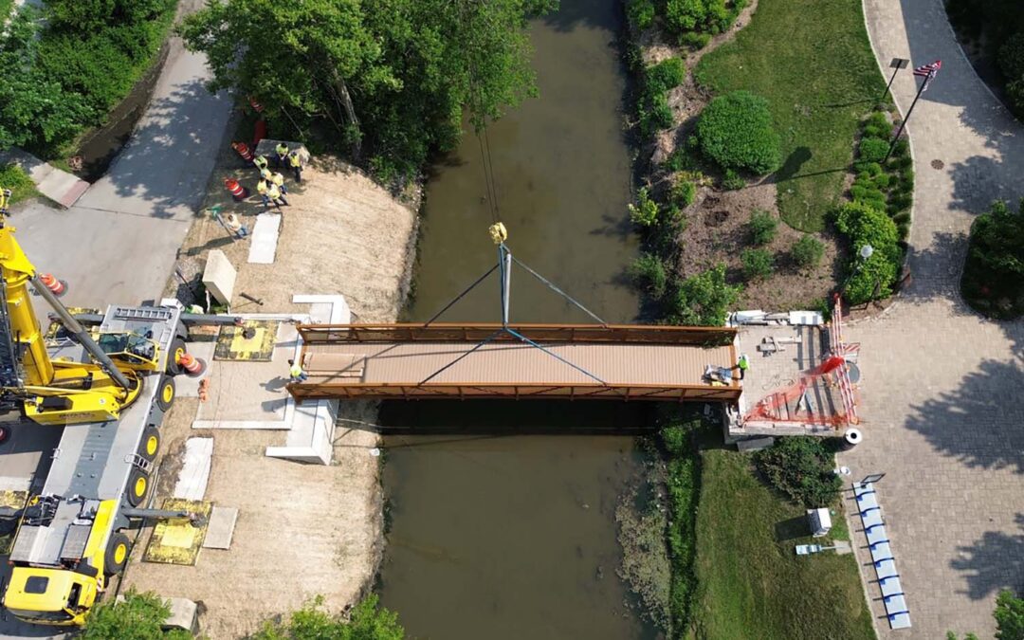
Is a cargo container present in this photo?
No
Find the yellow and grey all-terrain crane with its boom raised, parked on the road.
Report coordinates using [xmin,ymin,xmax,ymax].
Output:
[0,225,257,631]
